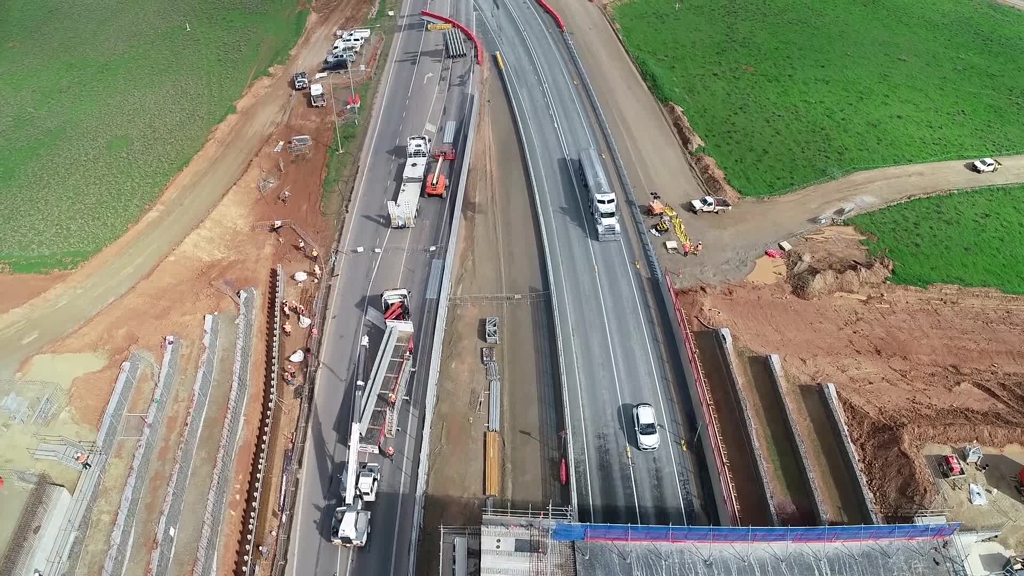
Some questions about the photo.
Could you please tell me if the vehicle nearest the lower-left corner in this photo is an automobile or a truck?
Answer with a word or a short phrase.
truck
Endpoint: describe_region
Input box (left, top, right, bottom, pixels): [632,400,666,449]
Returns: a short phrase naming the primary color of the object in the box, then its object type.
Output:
white car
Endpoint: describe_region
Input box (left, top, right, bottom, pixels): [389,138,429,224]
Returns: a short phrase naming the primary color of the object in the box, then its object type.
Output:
white vehicle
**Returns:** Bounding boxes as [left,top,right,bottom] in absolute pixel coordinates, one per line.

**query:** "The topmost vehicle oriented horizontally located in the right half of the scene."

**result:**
[971,153,1009,173]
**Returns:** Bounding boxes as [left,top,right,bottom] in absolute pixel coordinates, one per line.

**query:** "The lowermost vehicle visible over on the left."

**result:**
[349,279,416,449]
